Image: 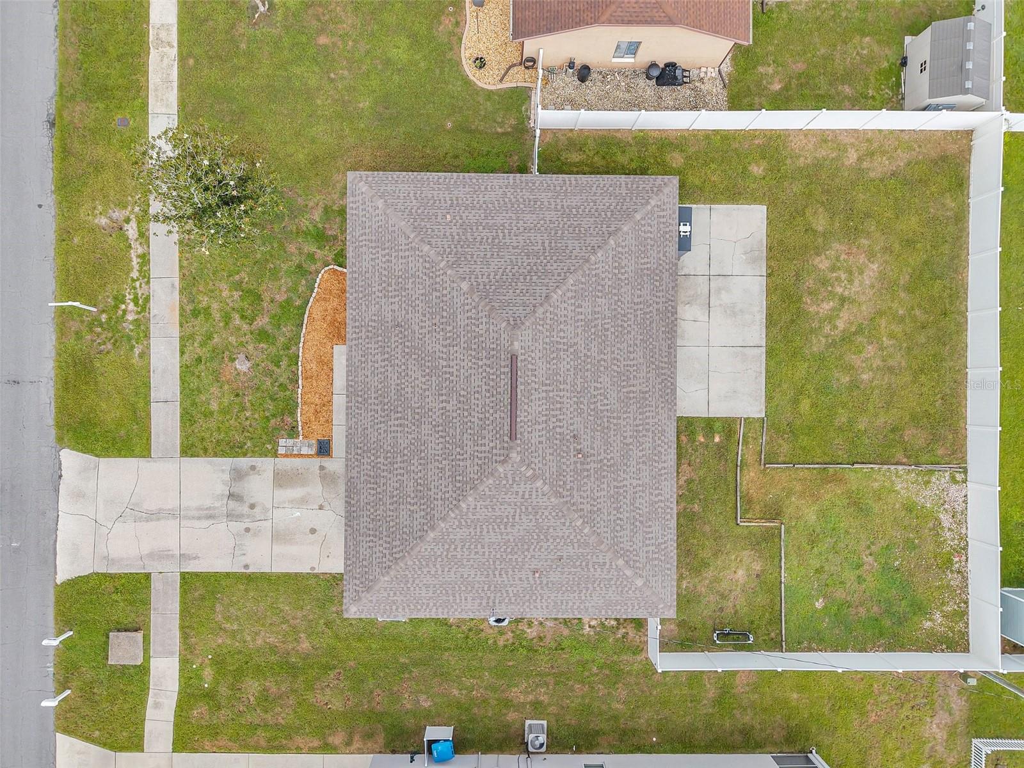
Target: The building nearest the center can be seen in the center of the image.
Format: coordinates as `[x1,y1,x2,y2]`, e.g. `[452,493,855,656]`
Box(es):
[344,172,678,618]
